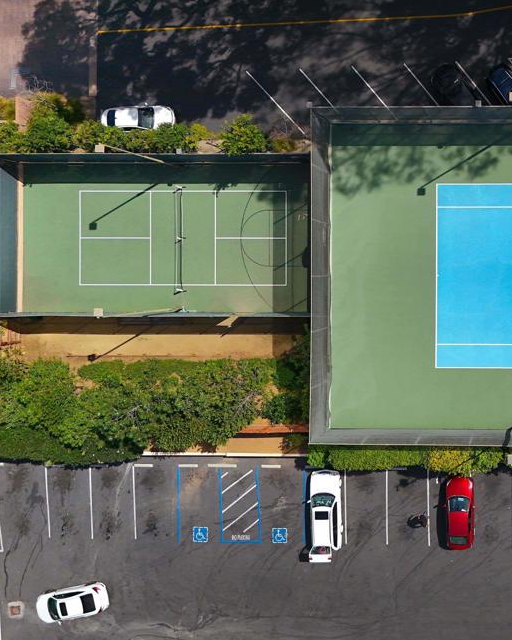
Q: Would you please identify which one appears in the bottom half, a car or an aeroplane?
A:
car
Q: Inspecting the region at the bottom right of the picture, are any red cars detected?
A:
Yes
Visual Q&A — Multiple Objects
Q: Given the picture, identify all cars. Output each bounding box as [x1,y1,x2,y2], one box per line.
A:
[103,99,177,134]
[304,470,342,560]
[443,475,476,549]
[39,580,112,625]
[444,62,498,106]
